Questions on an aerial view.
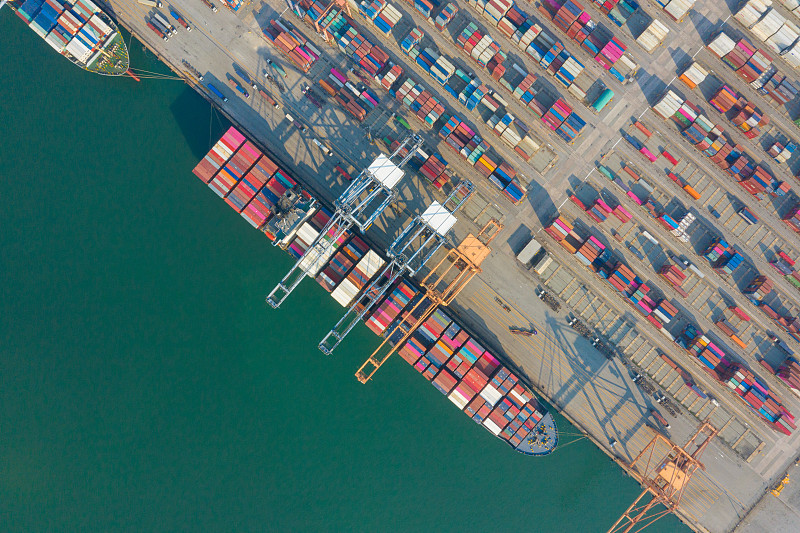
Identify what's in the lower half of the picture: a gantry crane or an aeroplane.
gantry crane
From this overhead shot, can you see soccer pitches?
No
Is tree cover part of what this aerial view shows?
No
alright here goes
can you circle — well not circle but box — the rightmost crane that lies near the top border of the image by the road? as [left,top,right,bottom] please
[313,0,352,44]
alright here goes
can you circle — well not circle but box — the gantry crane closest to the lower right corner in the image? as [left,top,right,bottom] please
[606,419,720,533]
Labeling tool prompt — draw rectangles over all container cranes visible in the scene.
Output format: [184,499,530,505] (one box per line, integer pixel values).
[317,179,477,356]
[313,0,352,44]
[266,134,426,311]
[351,219,502,386]
[606,419,720,533]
